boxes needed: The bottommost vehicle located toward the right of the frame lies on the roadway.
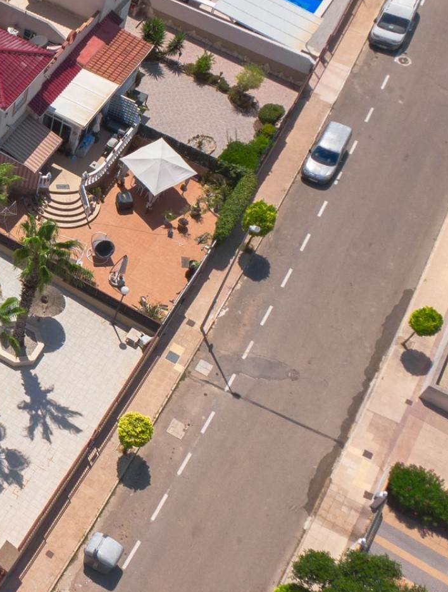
[300,117,361,189]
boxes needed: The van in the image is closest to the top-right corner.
[370,0,428,52]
